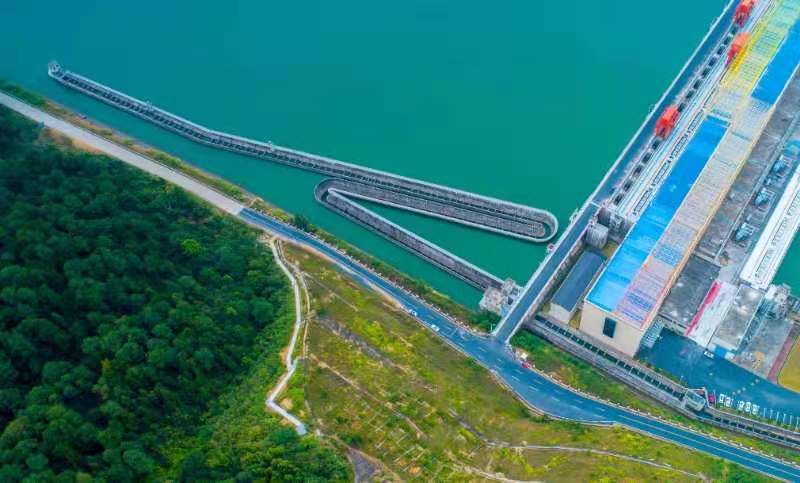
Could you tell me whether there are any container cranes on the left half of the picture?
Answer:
No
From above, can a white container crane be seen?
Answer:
No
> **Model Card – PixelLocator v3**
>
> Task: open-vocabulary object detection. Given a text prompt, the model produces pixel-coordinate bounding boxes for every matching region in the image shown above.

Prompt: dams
[486,0,744,349]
